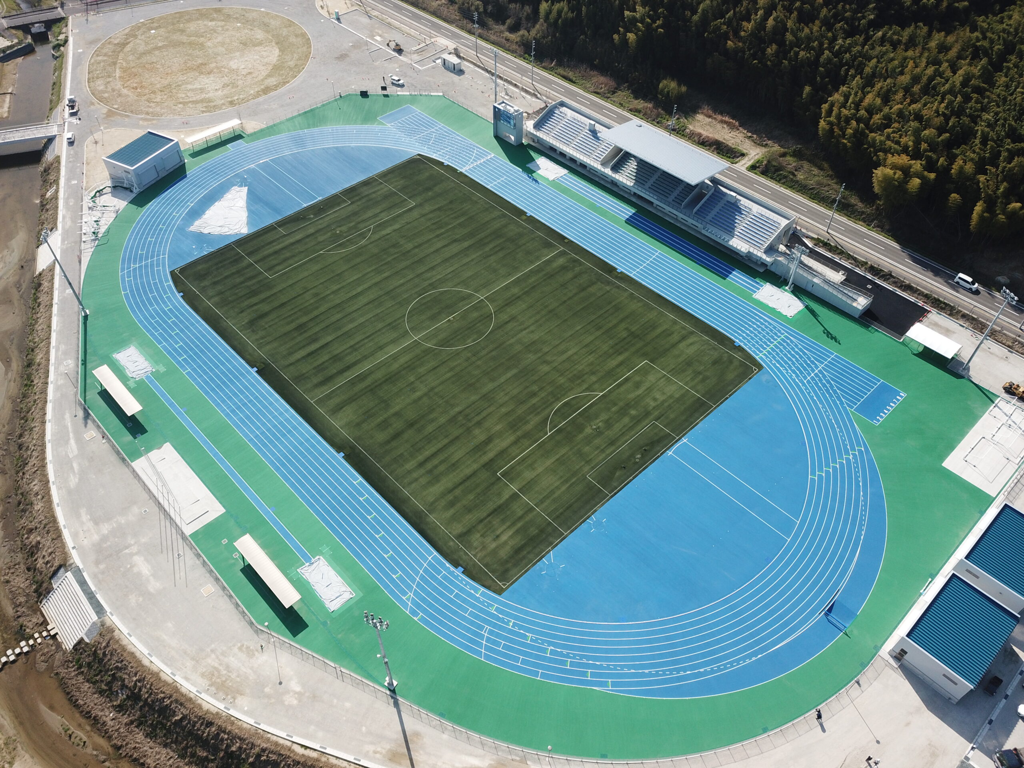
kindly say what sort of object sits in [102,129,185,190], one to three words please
shed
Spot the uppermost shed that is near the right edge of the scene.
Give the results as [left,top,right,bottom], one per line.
[954,503,1024,621]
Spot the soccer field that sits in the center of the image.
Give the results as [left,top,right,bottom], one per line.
[169,153,763,595]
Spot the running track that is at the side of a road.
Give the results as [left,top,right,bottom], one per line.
[118,125,865,686]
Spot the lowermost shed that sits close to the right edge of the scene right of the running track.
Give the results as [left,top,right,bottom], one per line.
[888,569,1021,703]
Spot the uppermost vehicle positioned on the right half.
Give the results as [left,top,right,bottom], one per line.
[953,275,978,293]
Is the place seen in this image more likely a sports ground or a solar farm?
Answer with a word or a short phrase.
sports ground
